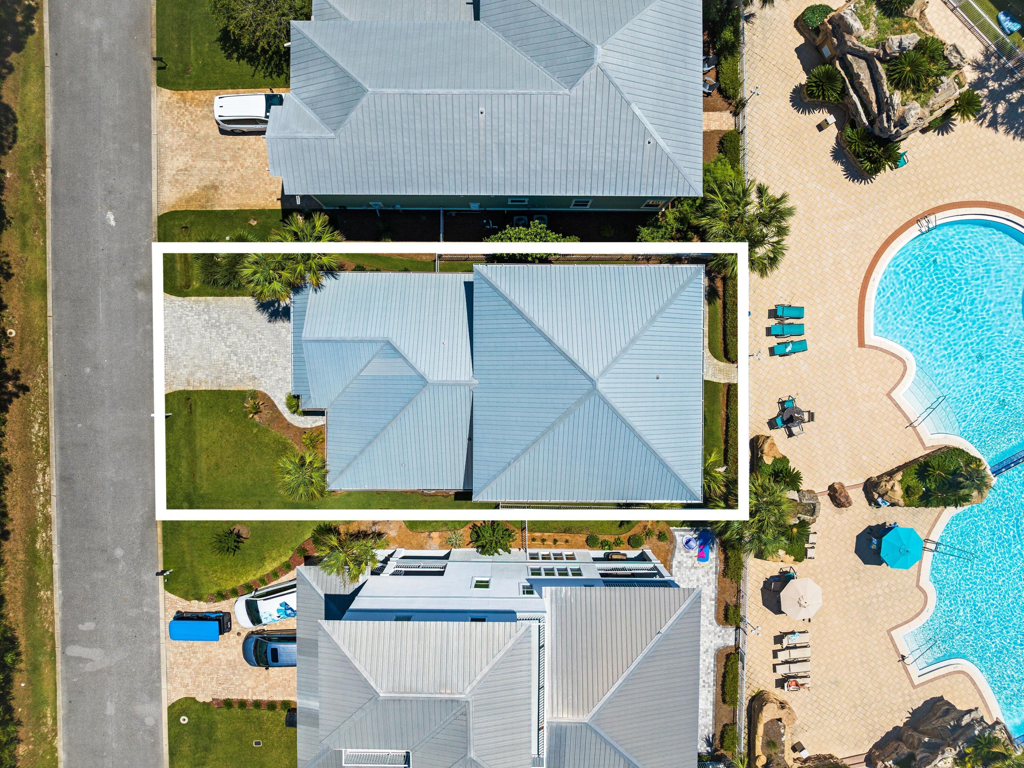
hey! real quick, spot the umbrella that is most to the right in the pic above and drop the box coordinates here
[879,527,924,570]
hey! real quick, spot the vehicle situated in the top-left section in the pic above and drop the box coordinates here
[215,89,283,134]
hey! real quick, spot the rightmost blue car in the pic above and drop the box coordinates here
[242,628,296,670]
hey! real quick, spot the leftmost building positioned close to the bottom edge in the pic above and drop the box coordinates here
[294,547,704,768]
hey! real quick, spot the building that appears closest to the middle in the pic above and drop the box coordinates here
[288,260,708,506]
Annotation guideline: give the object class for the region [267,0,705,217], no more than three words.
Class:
house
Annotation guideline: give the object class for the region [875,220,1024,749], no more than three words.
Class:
swimming pool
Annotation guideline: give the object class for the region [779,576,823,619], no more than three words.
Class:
umbrella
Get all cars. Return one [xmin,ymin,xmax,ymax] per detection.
[242,628,296,670]
[230,574,296,623]
[215,89,283,134]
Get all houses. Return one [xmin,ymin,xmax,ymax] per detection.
[267,0,705,217]
[288,260,708,506]
[294,547,704,768]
